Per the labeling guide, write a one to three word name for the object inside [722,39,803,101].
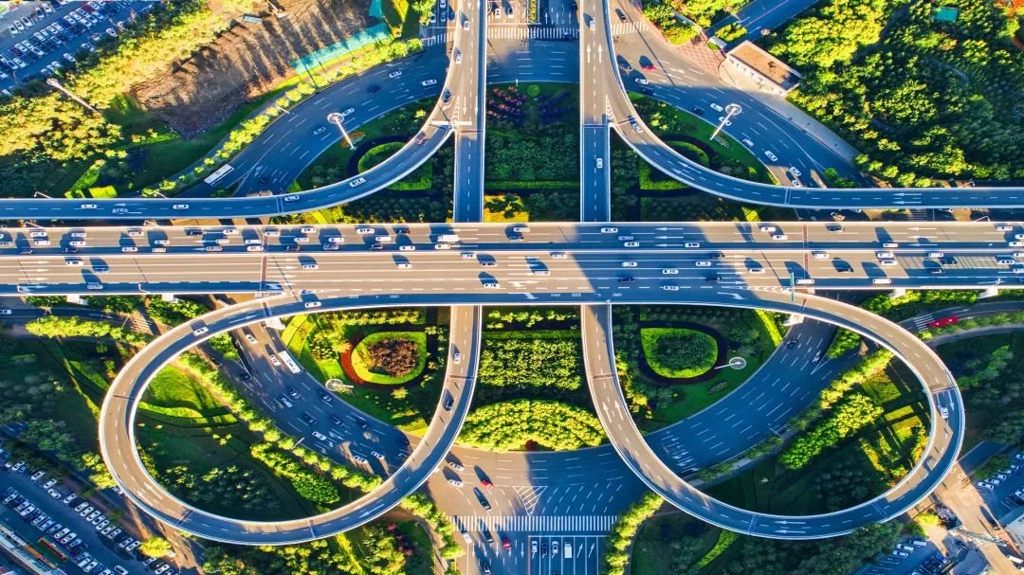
building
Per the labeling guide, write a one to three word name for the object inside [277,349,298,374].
bus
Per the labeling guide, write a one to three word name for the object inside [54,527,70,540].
vehicle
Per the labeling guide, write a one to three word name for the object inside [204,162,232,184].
bus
